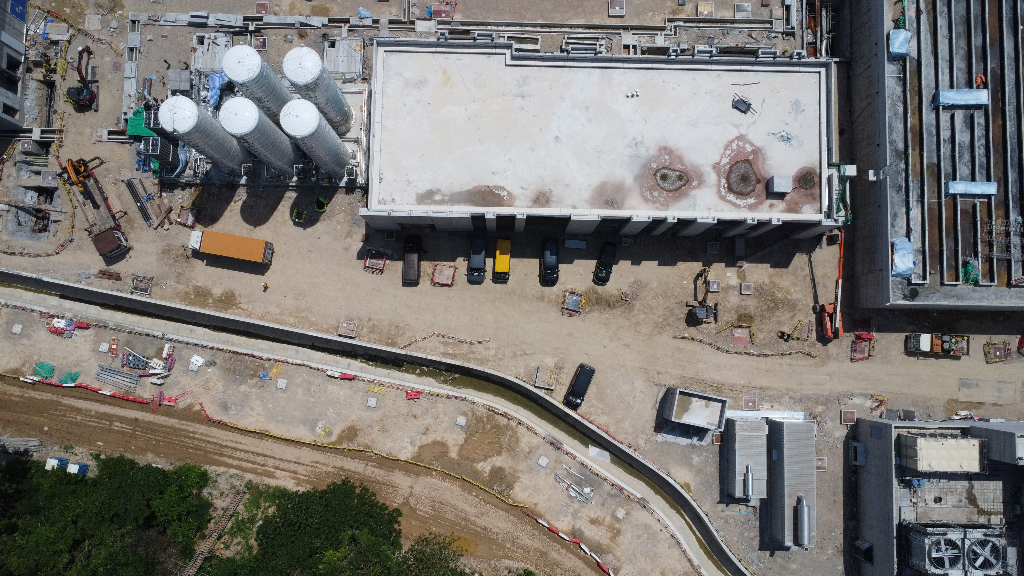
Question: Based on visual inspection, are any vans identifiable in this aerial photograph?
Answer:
Yes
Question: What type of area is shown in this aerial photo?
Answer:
industrial area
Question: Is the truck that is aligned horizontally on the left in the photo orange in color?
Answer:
Yes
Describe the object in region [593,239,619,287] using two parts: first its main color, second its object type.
black vehicle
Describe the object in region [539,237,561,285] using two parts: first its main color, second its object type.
black vehicle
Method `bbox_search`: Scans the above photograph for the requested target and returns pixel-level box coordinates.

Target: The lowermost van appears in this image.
[565,361,598,411]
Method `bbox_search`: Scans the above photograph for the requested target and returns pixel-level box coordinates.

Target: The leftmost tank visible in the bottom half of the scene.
[665,387,729,431]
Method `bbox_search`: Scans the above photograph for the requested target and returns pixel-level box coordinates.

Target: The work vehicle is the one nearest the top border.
[52,40,95,108]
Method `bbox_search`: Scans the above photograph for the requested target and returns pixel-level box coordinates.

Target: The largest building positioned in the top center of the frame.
[359,26,868,238]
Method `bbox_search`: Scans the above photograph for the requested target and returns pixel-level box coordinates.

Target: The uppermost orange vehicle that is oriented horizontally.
[182,226,283,266]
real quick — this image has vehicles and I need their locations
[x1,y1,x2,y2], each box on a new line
[691,267,723,325]
[52,40,95,108]
[51,161,127,258]
[182,226,283,266]
[465,237,487,284]
[399,237,426,284]
[565,361,598,411]
[539,237,561,285]
[593,239,619,287]
[491,237,512,281]
[905,331,973,355]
